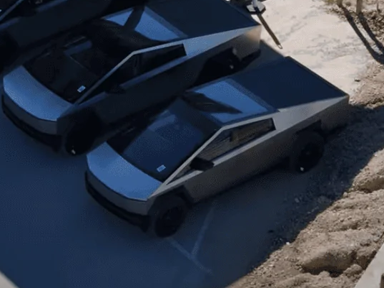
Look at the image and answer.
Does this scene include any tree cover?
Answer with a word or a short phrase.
No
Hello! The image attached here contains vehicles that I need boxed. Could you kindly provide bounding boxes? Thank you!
[0,0,261,157]
[80,55,350,236]
[0,0,160,78]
